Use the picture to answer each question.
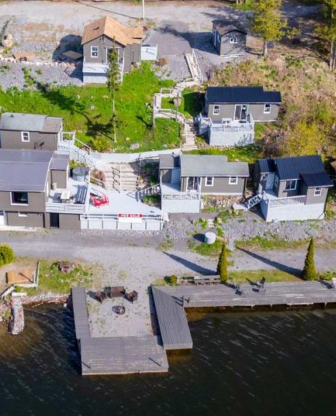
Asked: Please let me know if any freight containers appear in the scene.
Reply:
No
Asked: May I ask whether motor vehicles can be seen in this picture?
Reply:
No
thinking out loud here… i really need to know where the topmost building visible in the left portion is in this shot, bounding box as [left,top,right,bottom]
[80,19,157,86]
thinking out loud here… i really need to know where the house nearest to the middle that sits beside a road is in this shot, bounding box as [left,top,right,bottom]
[138,143,250,215]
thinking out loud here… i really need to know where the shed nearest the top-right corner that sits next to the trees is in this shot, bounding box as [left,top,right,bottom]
[216,14,253,55]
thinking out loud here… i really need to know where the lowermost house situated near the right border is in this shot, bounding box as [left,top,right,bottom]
[233,142,336,223]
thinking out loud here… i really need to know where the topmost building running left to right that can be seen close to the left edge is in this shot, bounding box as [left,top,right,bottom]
[0,110,102,156]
